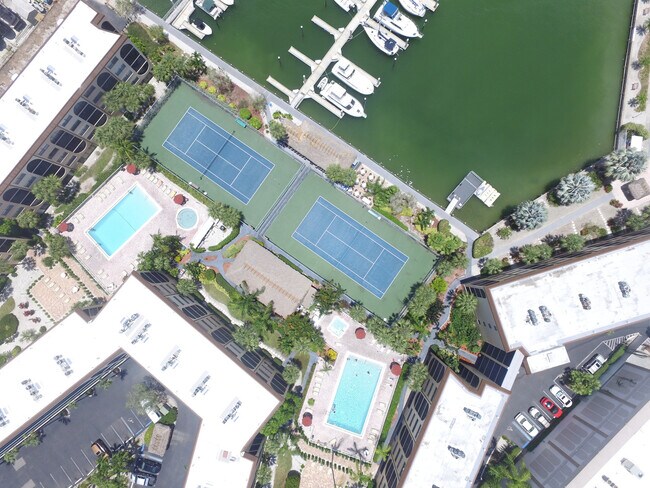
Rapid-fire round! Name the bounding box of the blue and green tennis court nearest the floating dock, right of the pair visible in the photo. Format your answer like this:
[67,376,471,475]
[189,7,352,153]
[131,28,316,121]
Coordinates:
[265,170,436,324]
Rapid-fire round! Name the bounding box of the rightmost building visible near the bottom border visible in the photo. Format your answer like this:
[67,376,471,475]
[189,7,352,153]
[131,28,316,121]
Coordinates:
[501,334,650,488]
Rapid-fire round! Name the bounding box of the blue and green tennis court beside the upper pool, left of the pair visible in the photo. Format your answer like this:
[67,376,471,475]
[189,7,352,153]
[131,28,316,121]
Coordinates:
[136,83,303,229]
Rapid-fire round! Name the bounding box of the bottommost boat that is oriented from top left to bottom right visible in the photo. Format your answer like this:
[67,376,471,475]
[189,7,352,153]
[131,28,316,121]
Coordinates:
[317,84,368,118]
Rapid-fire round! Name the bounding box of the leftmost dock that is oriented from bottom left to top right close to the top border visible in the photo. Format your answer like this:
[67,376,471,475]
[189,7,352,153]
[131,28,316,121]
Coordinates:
[172,0,198,30]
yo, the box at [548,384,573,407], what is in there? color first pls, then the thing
white car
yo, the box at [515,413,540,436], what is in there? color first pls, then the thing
white car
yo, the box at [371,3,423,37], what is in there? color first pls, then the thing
white boat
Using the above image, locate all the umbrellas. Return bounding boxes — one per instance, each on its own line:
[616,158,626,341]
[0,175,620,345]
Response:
[354,327,366,339]
[389,362,402,374]
[59,221,72,233]
[301,412,313,425]
[126,163,138,175]
[175,194,186,205]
